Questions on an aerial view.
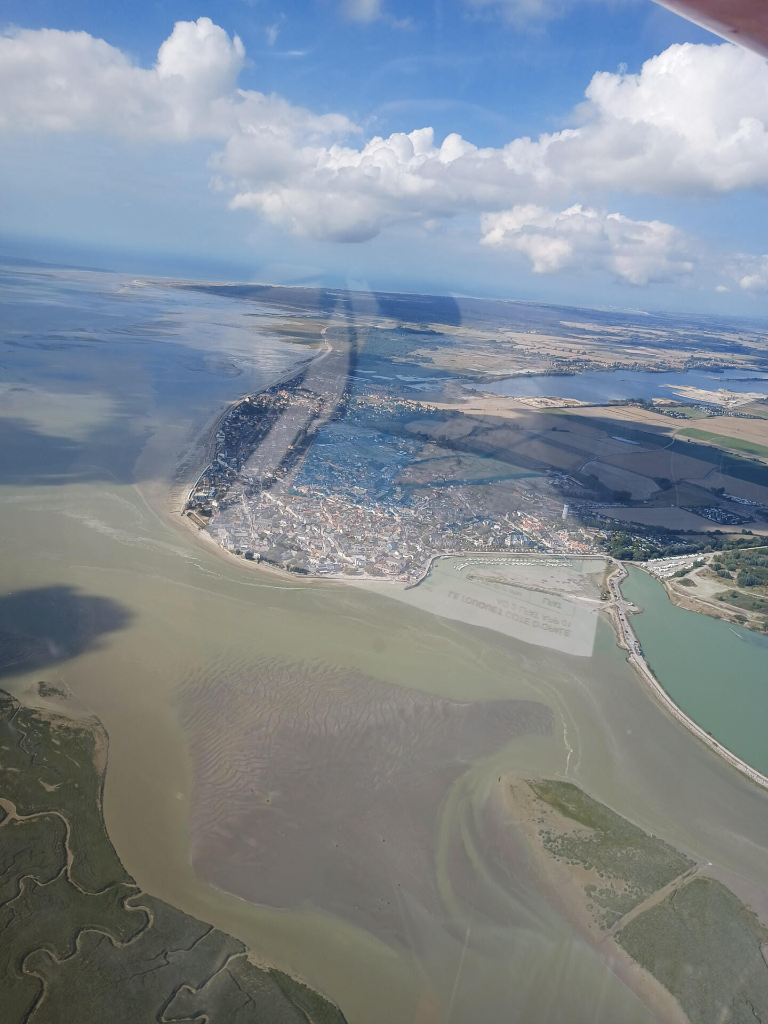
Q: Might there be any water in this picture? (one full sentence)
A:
Yes, water can be seen from above here.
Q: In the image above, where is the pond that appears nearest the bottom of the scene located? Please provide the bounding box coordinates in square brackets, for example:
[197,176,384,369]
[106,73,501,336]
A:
[620,566,768,777]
